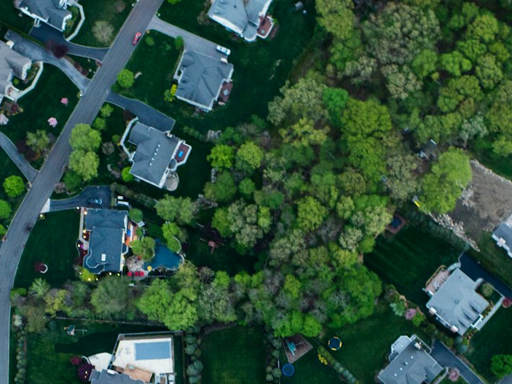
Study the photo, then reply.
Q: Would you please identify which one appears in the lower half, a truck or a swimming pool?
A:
swimming pool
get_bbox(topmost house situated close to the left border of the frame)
[19,0,74,34]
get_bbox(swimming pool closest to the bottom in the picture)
[134,341,171,361]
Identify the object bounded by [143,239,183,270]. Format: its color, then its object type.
blue swimming pool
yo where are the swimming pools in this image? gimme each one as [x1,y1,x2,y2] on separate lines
[143,239,183,270]
[134,341,171,361]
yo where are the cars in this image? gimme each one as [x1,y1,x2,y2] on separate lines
[132,31,142,44]
[215,46,231,55]
[88,198,102,204]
